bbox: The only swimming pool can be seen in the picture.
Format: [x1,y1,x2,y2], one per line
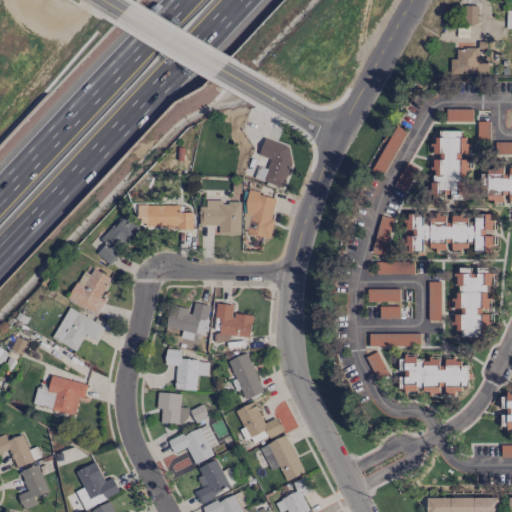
[212,419,230,439]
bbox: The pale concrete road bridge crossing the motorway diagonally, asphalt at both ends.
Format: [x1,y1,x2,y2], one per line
[67,0,292,118]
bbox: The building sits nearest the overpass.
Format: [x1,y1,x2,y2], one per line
[252,138,298,188]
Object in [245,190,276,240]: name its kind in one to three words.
house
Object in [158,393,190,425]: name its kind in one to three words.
house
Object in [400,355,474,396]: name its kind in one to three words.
building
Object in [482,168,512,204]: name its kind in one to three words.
building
